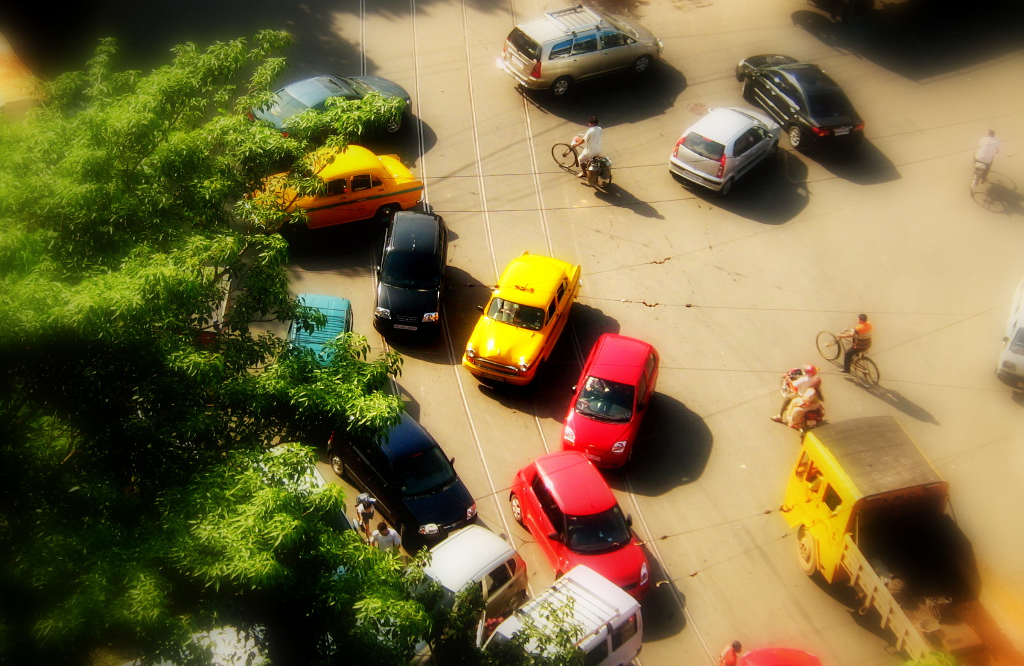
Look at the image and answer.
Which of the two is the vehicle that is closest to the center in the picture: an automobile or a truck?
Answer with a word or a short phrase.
automobile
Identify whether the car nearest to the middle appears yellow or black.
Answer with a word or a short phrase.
yellow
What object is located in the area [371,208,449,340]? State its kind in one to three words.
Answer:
car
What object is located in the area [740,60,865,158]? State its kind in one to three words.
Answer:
car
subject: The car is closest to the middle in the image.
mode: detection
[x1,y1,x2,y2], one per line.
[460,258,578,393]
